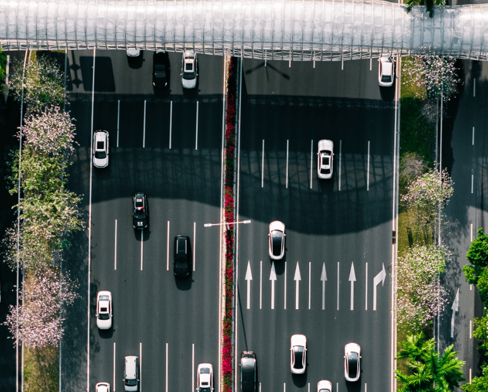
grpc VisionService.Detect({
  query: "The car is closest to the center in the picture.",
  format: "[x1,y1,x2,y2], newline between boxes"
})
[267,220,287,260]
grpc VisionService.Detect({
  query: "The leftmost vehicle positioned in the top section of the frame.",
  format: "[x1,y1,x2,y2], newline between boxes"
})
[91,130,109,169]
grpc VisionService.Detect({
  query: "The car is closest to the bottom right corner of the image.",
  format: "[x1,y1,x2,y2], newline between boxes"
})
[343,343,361,381]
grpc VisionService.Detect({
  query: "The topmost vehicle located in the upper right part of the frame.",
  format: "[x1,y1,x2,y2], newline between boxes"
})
[378,61,395,91]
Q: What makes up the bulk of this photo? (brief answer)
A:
paved ground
